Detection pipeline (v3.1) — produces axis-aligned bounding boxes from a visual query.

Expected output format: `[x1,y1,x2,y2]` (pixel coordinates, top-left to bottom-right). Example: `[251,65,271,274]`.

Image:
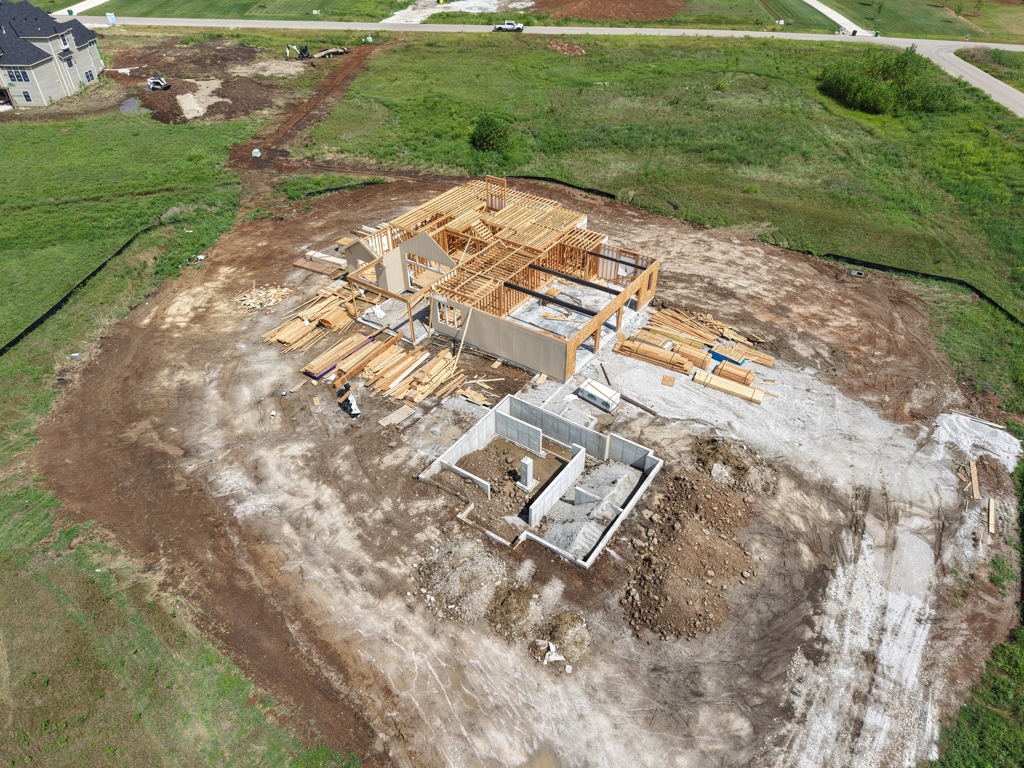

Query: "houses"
[0,1,112,109]
[333,174,661,385]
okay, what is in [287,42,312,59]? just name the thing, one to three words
work vehicle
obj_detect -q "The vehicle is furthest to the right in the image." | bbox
[494,19,523,32]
